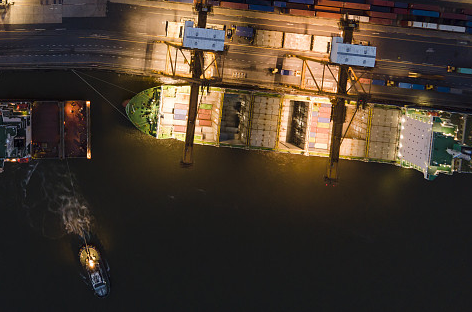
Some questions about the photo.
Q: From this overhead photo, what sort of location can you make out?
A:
port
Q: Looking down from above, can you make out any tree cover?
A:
No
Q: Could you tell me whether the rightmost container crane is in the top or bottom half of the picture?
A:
top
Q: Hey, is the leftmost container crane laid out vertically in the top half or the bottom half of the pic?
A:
top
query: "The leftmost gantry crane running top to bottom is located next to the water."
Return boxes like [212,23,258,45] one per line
[152,0,230,170]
